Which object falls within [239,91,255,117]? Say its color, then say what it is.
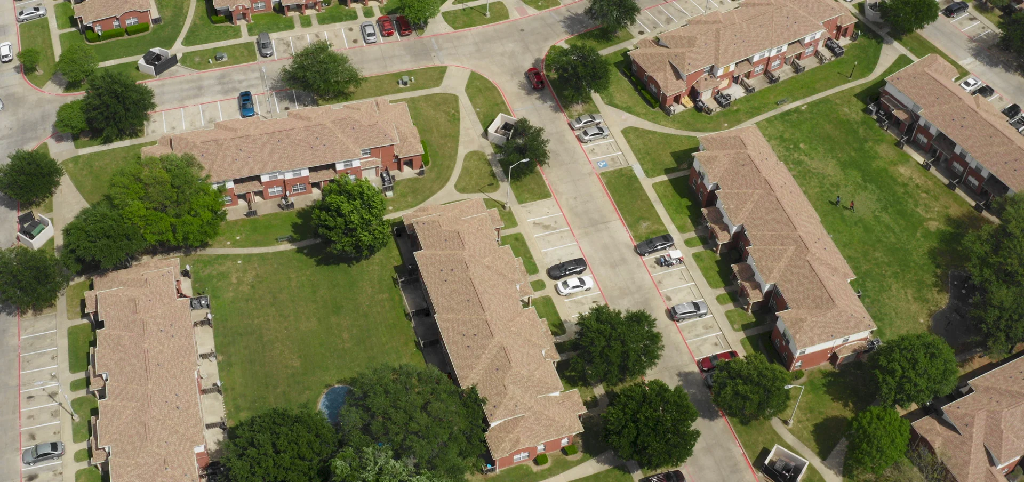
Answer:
blue car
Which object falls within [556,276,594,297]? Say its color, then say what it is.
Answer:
white car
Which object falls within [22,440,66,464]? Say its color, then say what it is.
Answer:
gray car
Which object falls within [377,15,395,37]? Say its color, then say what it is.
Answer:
red car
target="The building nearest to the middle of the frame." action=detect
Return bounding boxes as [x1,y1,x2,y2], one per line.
[401,198,586,471]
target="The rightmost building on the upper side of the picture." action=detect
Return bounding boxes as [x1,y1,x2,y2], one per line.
[879,53,1024,214]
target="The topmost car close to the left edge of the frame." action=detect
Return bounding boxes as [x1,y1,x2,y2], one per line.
[15,7,49,23]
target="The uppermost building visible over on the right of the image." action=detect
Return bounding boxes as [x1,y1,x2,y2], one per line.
[626,0,869,108]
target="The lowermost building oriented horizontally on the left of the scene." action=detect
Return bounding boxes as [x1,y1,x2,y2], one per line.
[141,96,426,210]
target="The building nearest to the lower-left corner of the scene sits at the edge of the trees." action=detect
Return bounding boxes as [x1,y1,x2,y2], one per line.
[85,258,214,482]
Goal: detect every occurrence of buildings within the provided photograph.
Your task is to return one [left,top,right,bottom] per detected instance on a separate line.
[879,53,1024,214]
[626,0,869,108]
[85,258,214,482]
[691,124,877,370]
[401,198,586,471]
[141,96,426,210]
[213,0,327,24]
[909,356,1024,482]
[68,0,159,30]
